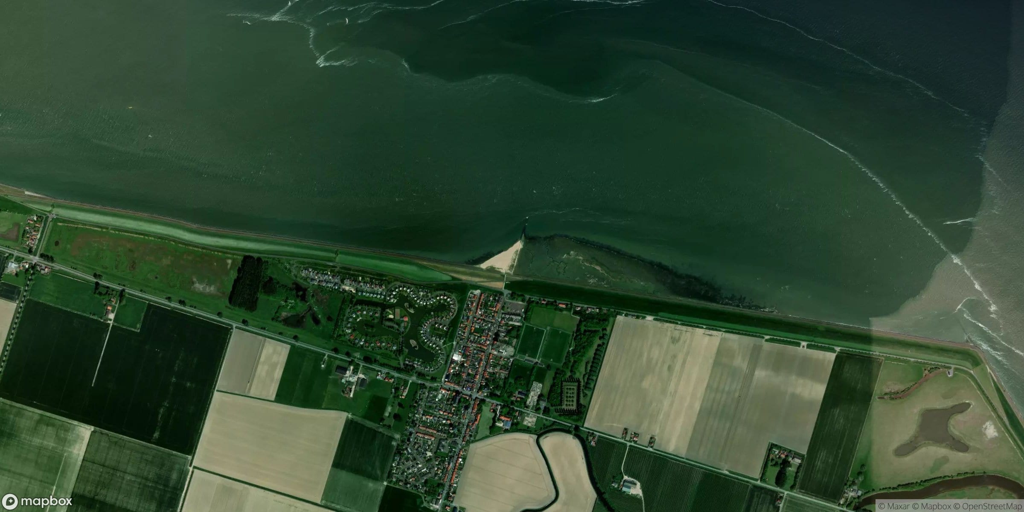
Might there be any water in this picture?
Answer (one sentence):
Yes, water shows up in the scene.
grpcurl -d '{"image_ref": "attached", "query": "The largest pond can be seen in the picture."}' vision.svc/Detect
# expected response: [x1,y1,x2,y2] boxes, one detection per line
[895,402,971,456]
